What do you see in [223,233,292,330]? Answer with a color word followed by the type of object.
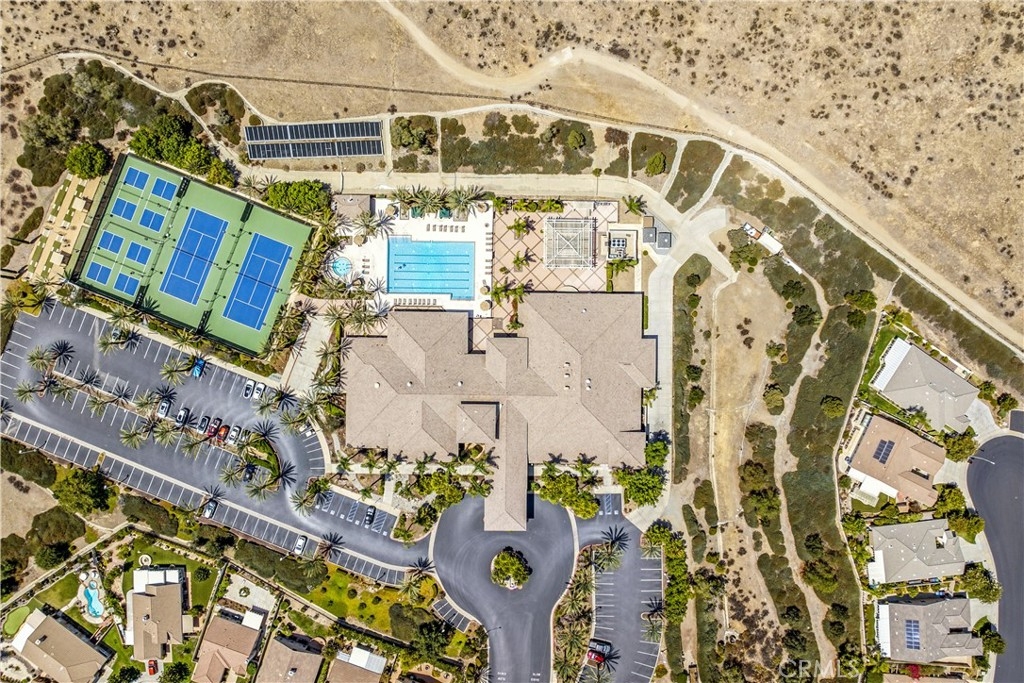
blue tennis court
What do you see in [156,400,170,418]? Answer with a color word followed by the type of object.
white car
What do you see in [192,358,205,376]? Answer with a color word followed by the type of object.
blue vehicle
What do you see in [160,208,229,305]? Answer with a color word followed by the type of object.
blue tennis court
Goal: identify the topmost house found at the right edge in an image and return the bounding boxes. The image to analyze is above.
[869,338,980,435]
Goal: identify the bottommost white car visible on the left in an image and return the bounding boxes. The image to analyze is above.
[295,536,307,554]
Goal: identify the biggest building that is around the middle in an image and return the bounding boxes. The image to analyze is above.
[346,292,657,531]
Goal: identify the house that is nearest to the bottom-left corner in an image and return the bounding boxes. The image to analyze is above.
[11,606,123,683]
